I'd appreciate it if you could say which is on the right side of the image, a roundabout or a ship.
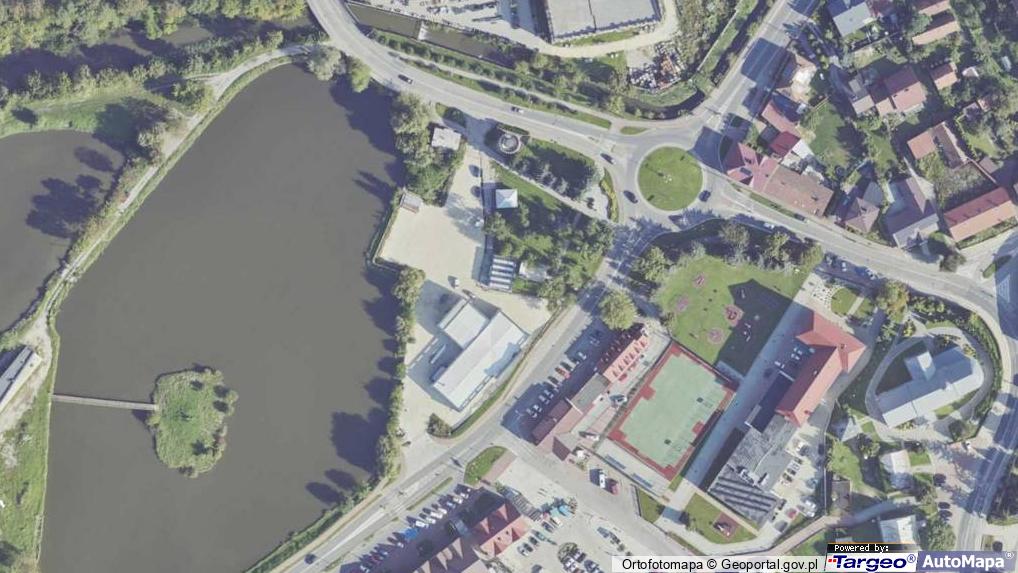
roundabout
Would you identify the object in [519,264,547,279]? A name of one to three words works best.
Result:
shed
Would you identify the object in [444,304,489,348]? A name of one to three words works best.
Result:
building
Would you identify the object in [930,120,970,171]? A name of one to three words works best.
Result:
house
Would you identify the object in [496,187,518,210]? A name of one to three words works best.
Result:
building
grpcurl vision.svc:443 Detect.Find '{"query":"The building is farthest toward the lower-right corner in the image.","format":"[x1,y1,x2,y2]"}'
[880,515,920,556]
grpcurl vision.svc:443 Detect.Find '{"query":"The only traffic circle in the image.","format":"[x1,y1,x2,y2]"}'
[625,132,717,224]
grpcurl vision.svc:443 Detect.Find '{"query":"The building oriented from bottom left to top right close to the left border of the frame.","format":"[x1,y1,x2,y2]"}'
[0,347,43,411]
